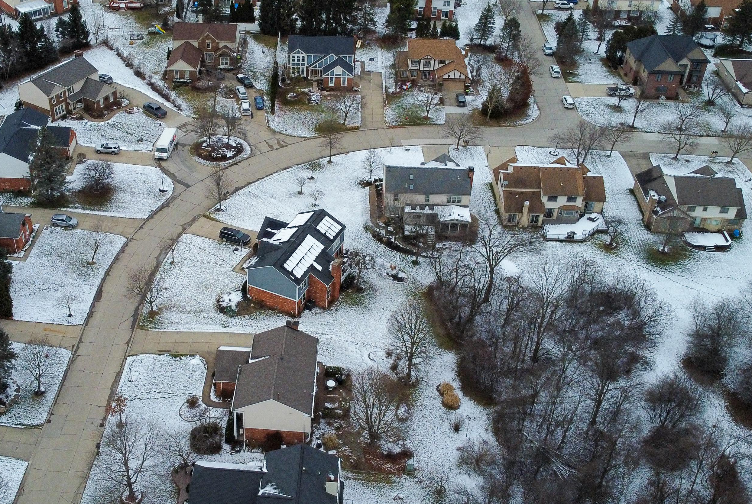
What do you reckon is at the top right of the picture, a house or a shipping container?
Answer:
house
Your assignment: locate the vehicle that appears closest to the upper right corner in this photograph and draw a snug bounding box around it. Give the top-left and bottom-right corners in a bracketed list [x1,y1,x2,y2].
[607,84,636,97]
